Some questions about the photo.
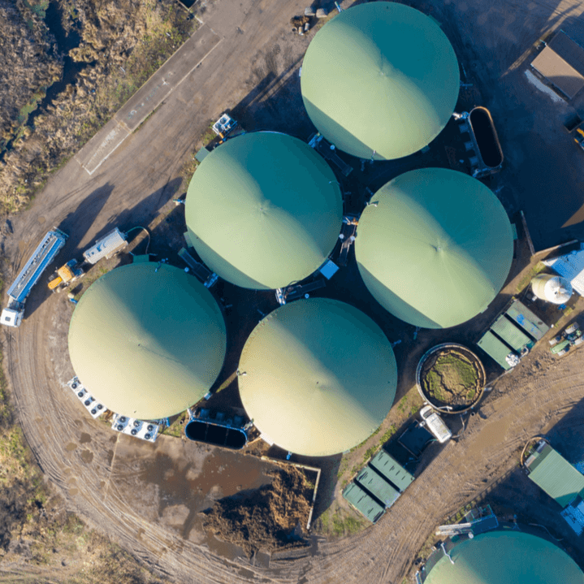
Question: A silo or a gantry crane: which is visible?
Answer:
silo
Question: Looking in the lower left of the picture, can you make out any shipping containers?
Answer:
No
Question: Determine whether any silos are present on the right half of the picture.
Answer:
Yes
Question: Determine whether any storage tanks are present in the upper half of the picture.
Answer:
Yes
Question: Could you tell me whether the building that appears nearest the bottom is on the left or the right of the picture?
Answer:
right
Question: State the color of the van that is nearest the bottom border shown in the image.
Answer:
white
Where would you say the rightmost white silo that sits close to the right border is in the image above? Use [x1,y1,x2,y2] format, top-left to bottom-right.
[529,274,574,305]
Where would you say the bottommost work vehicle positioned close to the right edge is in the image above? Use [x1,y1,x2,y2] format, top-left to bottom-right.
[549,322,583,353]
